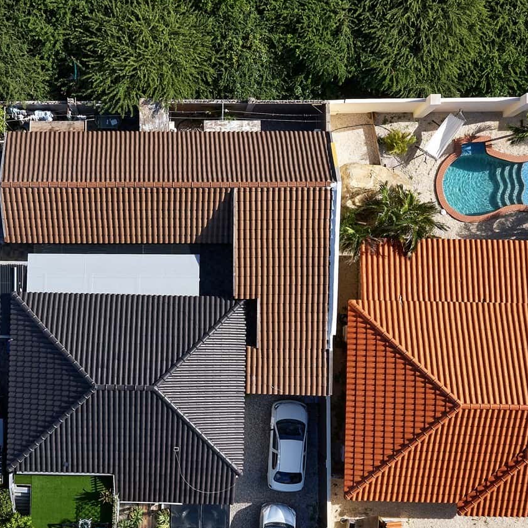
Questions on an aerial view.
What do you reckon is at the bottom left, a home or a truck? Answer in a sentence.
What appears at the bottom left is a home.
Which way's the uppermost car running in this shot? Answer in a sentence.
The uppermost car has been laid out vertically relative to the frame.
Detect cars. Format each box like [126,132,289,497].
[266,398,312,494]
[257,499,297,528]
